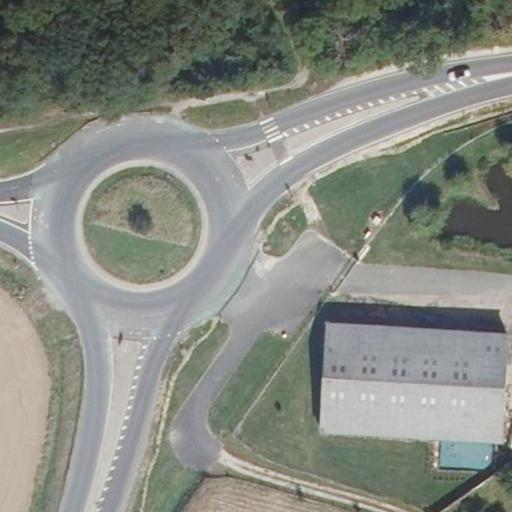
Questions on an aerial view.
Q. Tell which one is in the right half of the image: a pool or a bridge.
pool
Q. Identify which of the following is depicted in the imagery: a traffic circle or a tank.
traffic circle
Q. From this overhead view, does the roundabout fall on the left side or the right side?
left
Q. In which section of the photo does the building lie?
bottom right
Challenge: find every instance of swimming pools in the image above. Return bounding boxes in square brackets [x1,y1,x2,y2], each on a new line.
[431,442,496,473]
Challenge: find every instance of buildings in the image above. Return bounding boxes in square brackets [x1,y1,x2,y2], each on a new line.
[320,322,508,445]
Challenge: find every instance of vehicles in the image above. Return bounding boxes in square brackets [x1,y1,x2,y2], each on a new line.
[448,70,472,82]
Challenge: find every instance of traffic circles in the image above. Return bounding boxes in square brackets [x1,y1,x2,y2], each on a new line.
[30,114,260,347]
